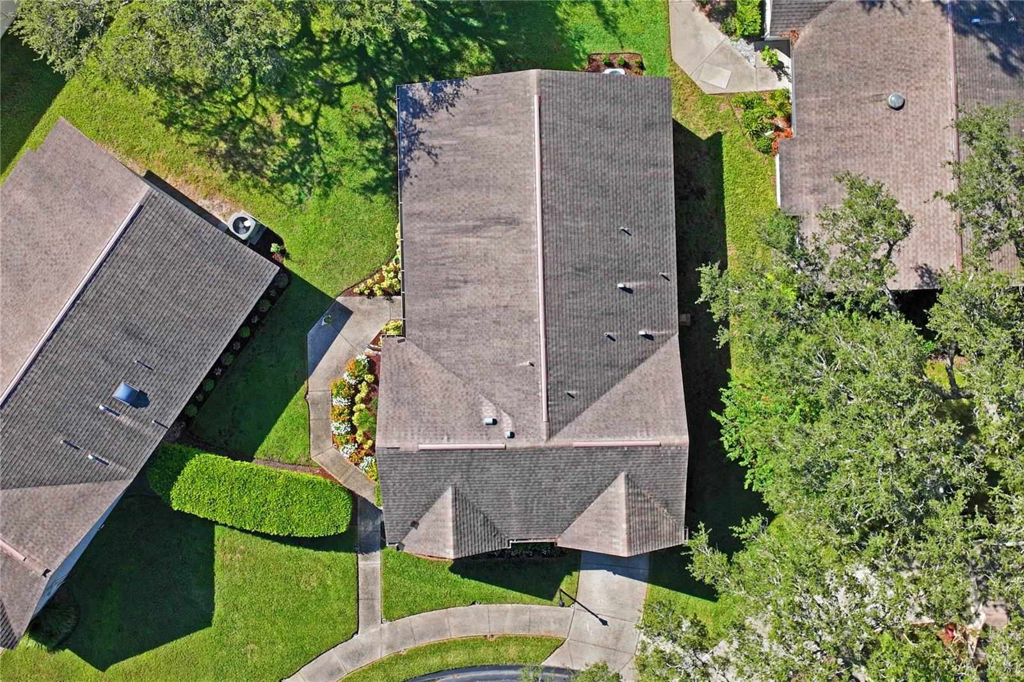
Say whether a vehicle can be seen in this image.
No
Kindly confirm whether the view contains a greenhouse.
No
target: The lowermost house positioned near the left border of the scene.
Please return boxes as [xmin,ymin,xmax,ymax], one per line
[0,116,280,654]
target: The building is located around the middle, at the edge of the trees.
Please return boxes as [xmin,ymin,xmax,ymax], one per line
[378,68,691,559]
